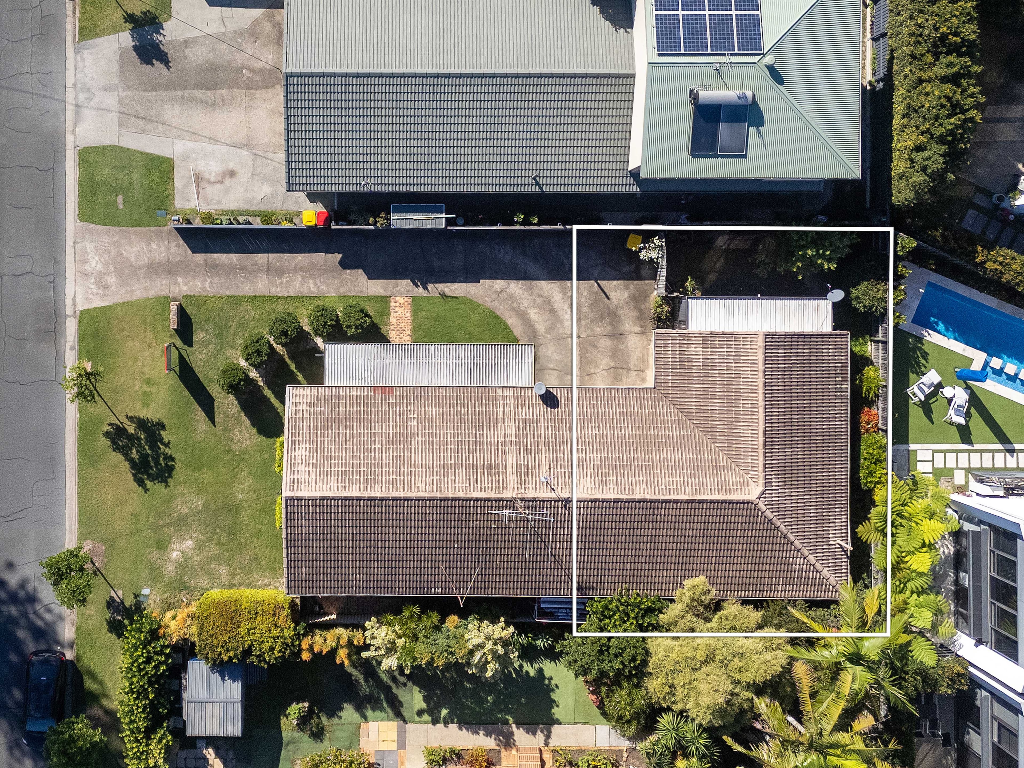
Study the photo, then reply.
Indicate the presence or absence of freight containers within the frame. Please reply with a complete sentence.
No, no freight container is visible in the view.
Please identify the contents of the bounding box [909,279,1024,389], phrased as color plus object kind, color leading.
blue swimming pool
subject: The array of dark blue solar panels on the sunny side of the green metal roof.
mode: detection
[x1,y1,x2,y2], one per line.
[655,0,763,53]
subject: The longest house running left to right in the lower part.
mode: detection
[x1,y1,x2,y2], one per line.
[280,327,854,601]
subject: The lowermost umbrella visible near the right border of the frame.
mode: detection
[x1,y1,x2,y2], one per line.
[950,367,987,380]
